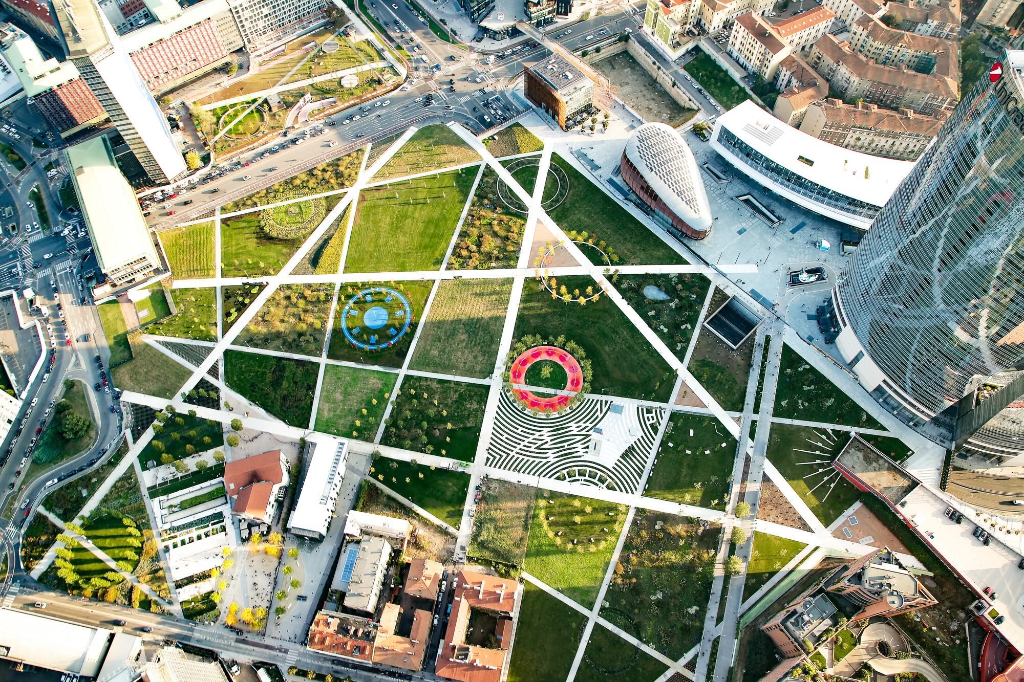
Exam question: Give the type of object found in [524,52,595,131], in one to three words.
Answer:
building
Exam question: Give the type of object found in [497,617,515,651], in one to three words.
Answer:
shed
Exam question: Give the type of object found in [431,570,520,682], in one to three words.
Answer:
house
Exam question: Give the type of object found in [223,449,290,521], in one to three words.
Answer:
house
